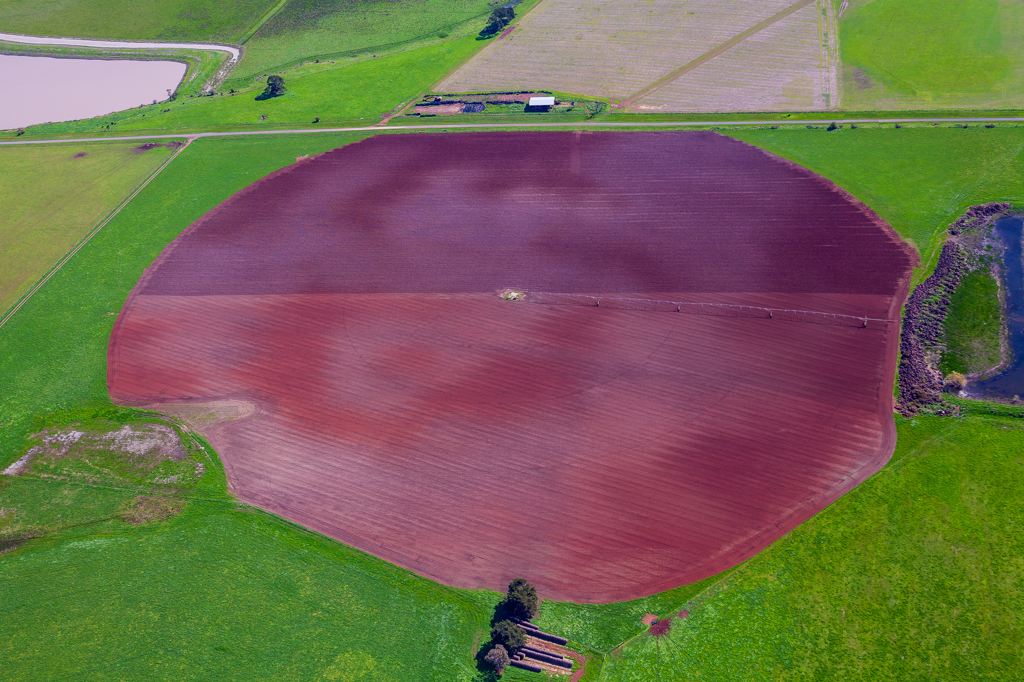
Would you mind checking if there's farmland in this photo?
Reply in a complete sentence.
Yes, farmland shows up in the scene.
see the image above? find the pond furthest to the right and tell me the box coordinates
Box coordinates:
[965,215,1024,398]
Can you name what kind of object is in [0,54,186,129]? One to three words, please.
pond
